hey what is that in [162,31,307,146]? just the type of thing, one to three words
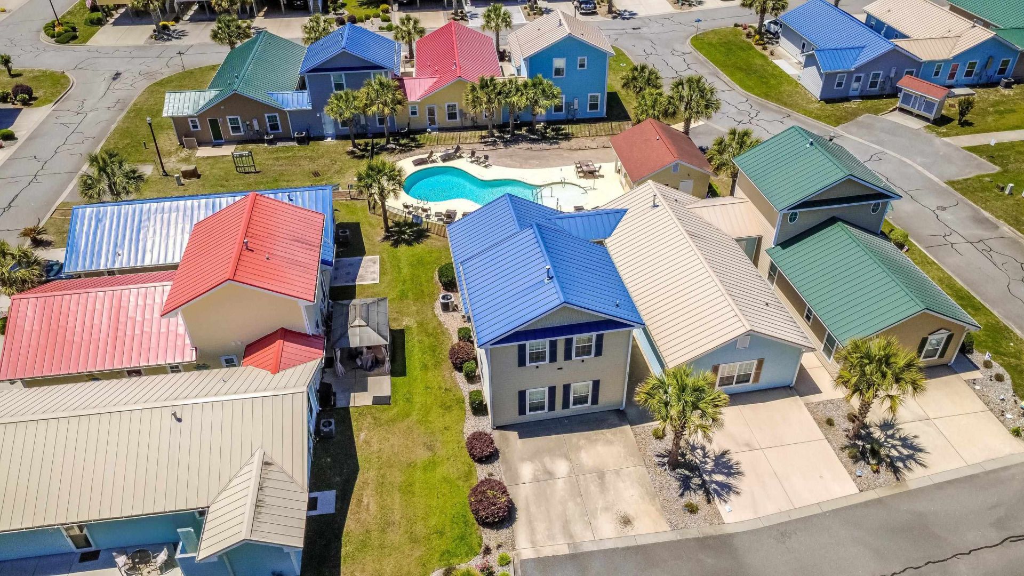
house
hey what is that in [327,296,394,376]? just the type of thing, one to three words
gazebo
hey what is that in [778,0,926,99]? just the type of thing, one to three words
house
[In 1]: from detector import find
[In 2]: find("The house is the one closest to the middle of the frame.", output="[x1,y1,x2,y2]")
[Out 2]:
[445,190,646,431]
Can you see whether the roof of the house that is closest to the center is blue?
Yes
